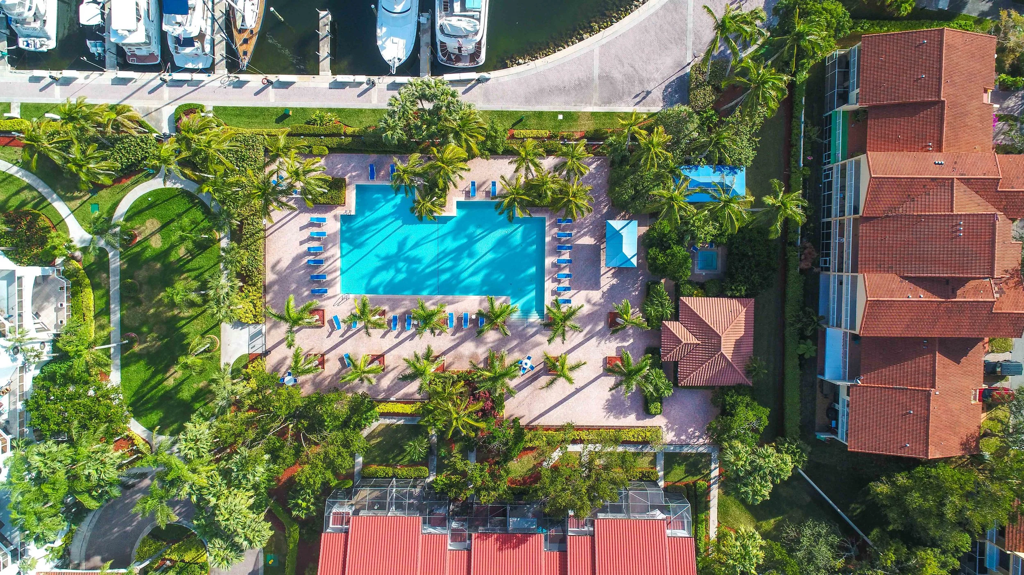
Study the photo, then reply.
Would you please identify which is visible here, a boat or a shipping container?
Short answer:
boat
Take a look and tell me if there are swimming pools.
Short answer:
Yes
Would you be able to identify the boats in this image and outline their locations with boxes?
[163,0,215,71]
[202,0,267,71]
[16,36,51,53]
[376,0,419,74]
[2,0,64,52]
[79,0,108,58]
[435,0,488,70]
[111,0,165,66]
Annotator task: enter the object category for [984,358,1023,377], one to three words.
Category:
car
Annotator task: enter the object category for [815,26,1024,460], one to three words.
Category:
building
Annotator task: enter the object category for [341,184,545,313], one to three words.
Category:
swimming pool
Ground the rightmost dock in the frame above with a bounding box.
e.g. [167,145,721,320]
[420,13,432,76]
